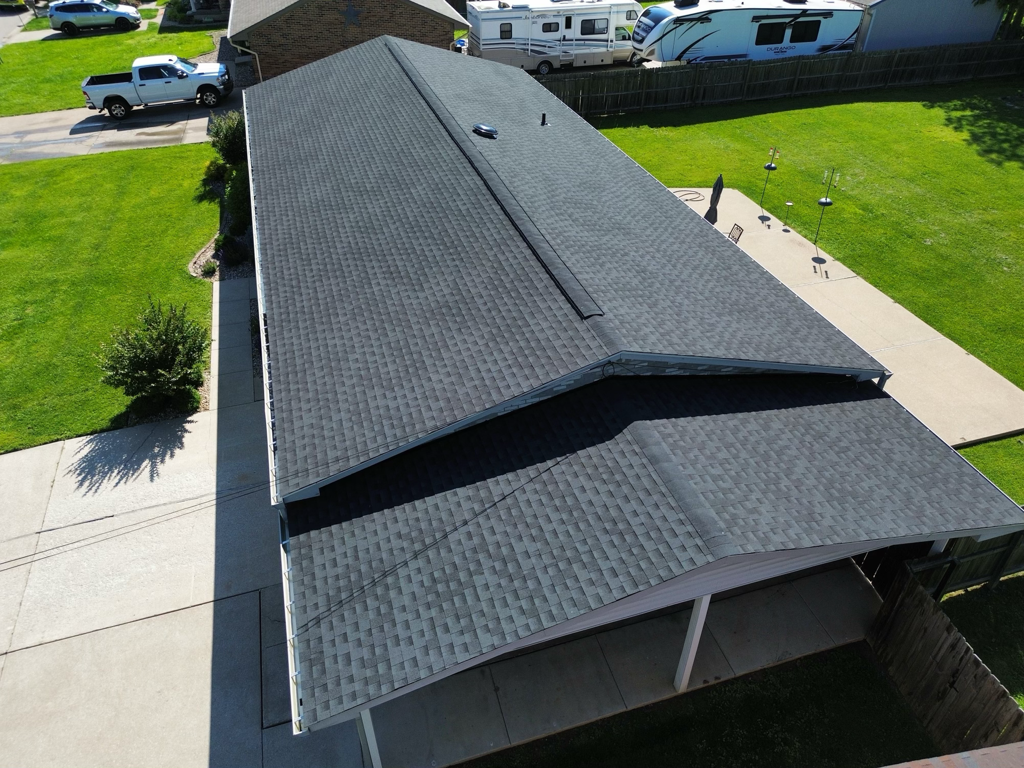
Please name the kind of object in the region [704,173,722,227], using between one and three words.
umbrella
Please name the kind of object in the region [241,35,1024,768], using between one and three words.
house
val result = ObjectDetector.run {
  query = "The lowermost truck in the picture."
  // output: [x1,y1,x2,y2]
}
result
[80,53,236,117]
